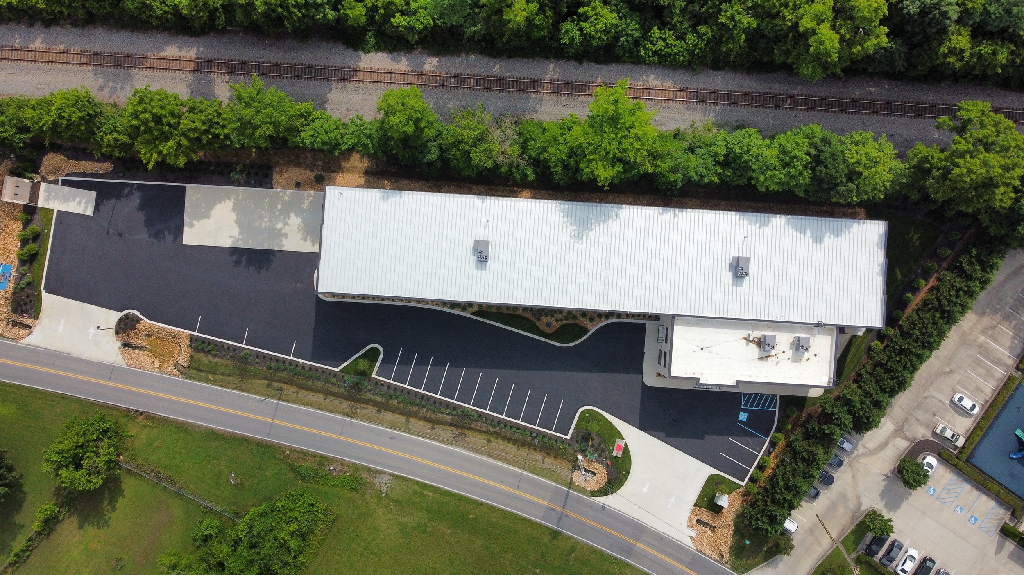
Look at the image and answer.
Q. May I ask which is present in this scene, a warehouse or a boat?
warehouse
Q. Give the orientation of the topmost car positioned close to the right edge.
diagonally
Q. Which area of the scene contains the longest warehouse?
center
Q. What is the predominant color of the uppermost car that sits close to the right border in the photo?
white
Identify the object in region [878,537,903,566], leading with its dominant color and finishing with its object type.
gray car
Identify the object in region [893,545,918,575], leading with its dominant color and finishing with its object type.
white car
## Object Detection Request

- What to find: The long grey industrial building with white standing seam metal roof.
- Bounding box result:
[315,185,890,329]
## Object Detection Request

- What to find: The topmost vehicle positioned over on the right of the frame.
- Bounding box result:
[949,391,979,416]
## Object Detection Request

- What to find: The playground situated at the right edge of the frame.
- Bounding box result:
[969,381,1024,498]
